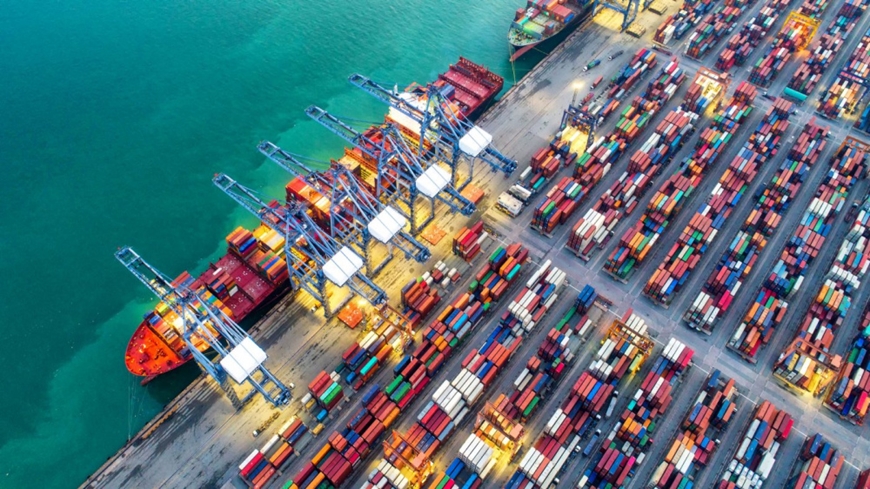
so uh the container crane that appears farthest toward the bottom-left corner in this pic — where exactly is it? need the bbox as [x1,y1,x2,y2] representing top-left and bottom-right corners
[116,244,294,412]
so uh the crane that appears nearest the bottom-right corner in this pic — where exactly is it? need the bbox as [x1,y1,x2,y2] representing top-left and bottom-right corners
[771,340,845,398]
